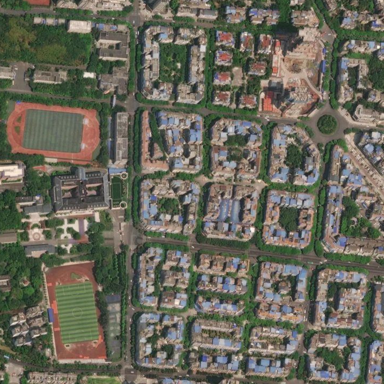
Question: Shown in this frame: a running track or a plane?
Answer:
running track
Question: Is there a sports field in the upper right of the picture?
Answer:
No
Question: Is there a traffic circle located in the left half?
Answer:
No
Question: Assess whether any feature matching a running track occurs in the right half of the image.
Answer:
No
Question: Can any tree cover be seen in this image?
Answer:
Yes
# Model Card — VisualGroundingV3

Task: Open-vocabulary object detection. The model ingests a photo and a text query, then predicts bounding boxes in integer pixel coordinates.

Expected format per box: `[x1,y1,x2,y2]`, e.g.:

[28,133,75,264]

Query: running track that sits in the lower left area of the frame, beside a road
[46,262,106,359]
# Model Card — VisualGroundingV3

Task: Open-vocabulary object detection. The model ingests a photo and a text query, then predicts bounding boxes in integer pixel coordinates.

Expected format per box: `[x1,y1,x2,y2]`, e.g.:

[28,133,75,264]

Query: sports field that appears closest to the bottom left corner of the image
[56,282,99,343]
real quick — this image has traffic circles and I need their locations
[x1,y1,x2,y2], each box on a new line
[308,105,348,143]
